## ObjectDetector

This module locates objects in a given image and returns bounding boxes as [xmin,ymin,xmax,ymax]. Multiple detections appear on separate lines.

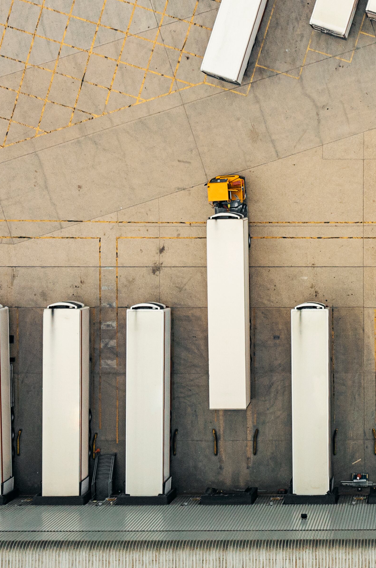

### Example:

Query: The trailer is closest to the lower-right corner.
[292,302,333,493]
